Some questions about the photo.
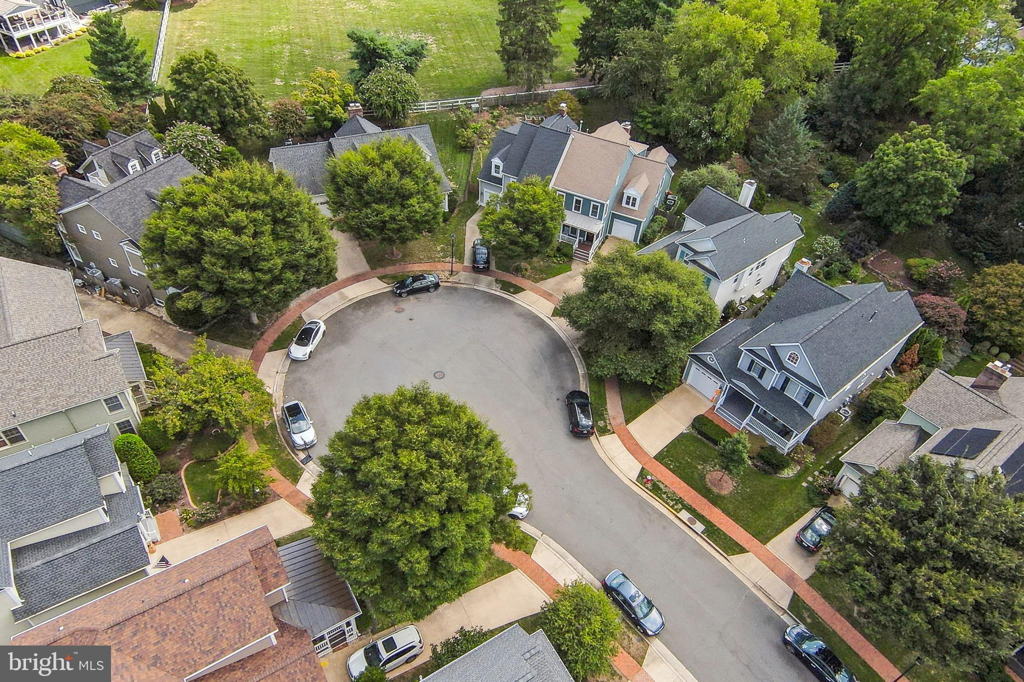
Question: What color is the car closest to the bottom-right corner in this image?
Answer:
black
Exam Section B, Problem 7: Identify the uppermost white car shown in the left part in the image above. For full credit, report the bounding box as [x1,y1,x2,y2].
[289,320,325,361]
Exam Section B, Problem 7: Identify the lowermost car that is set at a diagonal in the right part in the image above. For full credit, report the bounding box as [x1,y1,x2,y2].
[779,623,857,682]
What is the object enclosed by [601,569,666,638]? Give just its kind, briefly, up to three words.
car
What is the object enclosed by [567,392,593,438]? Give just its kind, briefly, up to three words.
car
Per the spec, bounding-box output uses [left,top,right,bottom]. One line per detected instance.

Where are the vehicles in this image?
[471,241,490,269]
[567,392,593,438]
[289,320,325,361]
[794,505,840,556]
[346,620,426,671]
[601,569,666,638]
[283,399,318,451]
[392,277,442,300]
[779,623,857,682]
